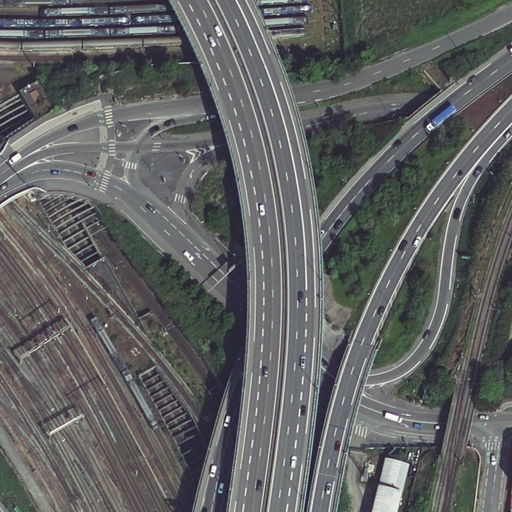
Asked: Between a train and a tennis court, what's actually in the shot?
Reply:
train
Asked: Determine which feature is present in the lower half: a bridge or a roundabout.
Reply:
bridge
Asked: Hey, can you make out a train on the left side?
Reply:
Yes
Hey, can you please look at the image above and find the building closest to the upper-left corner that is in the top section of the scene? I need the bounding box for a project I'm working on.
[20,81,44,118]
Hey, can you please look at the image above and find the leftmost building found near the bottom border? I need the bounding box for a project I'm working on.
[370,457,410,512]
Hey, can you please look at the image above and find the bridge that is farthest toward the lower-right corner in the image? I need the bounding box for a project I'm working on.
[437,366,480,474]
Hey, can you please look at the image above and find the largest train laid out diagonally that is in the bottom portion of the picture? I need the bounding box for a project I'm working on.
[90,316,160,427]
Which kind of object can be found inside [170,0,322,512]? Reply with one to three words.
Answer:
bridge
